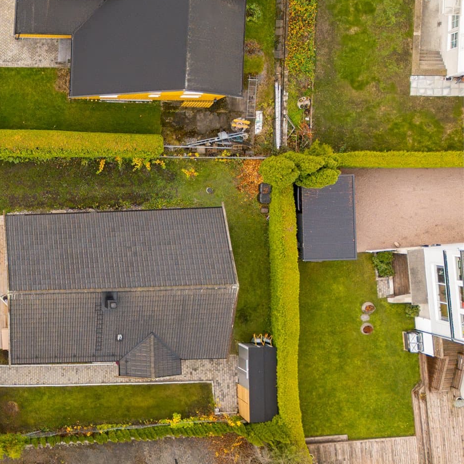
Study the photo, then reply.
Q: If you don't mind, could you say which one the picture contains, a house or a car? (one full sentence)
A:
Visible in the photo is a house.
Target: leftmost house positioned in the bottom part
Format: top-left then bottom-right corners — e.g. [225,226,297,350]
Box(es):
[4,206,240,380]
